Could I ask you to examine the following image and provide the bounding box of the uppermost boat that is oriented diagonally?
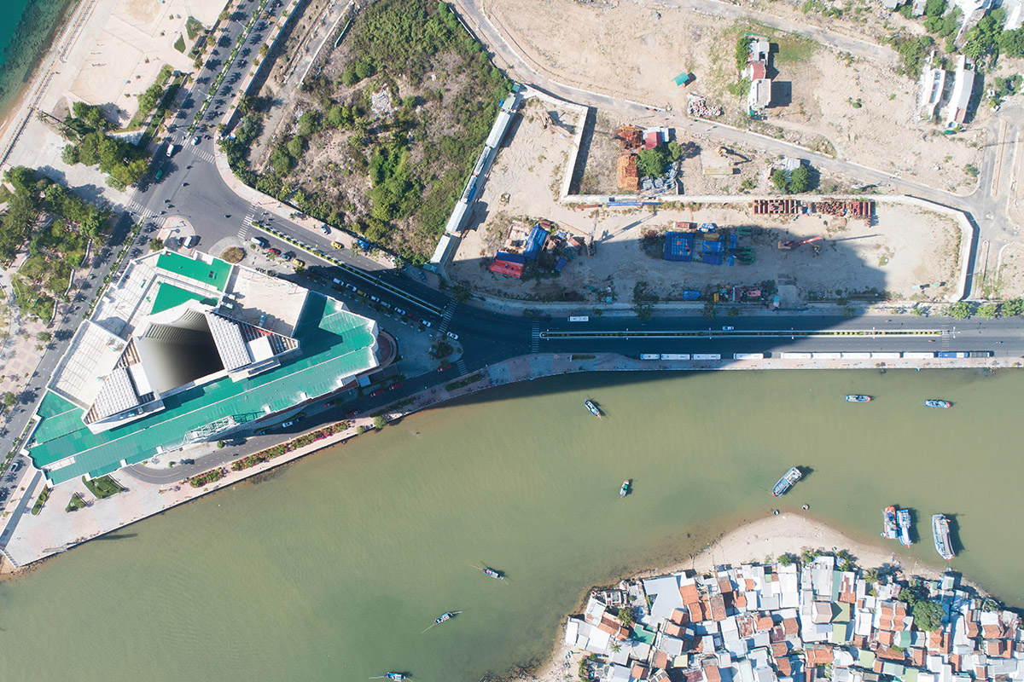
[583,399,601,418]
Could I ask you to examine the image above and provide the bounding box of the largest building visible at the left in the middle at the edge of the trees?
[17,245,400,490]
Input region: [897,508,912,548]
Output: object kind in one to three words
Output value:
boat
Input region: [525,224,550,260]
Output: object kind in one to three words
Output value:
shed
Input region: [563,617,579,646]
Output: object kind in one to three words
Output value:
house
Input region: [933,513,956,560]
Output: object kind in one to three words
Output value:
boat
